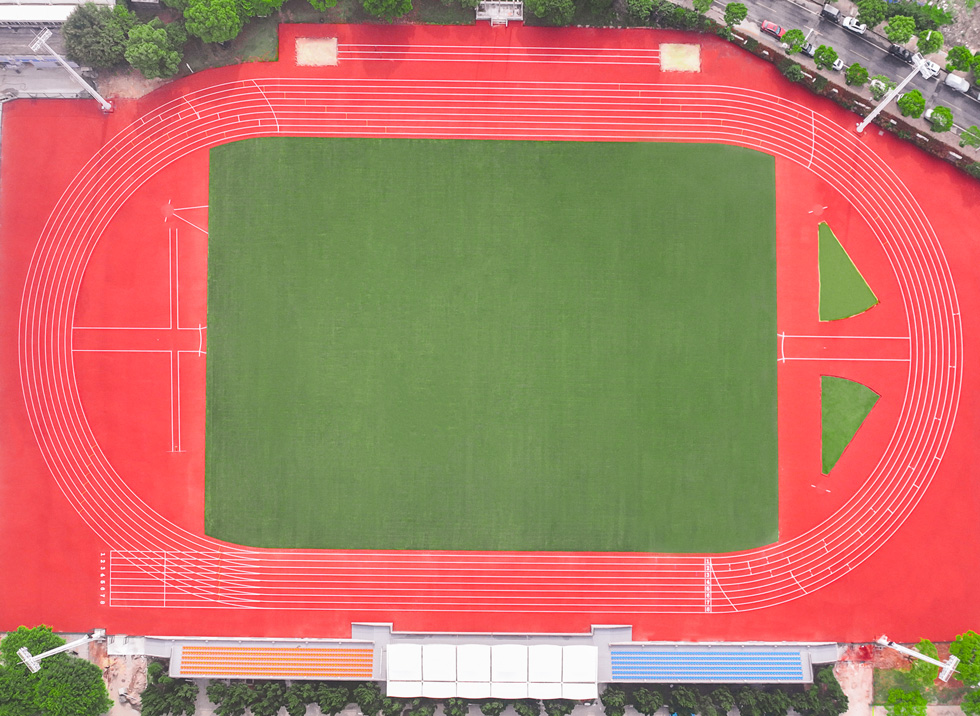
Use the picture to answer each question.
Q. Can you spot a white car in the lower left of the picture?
No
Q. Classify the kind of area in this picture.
sports ground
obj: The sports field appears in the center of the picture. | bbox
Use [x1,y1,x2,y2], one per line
[205,136,779,553]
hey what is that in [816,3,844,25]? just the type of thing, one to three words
vehicle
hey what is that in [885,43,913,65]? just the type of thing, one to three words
car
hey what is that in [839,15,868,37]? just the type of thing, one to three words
car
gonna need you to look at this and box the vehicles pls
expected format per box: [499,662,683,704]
[942,71,970,95]
[839,15,868,37]
[921,59,945,79]
[919,104,937,126]
[822,56,844,72]
[759,19,785,41]
[575,699,599,709]
[885,43,913,65]
[893,91,904,105]
[796,40,816,60]
[816,3,844,25]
